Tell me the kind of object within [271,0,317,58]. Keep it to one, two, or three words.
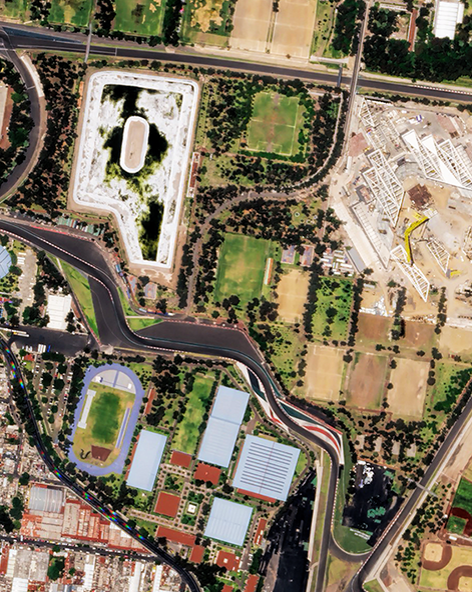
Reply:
soccer field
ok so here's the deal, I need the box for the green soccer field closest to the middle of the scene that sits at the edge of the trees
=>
[216,233,271,304]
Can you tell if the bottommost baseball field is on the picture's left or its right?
right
